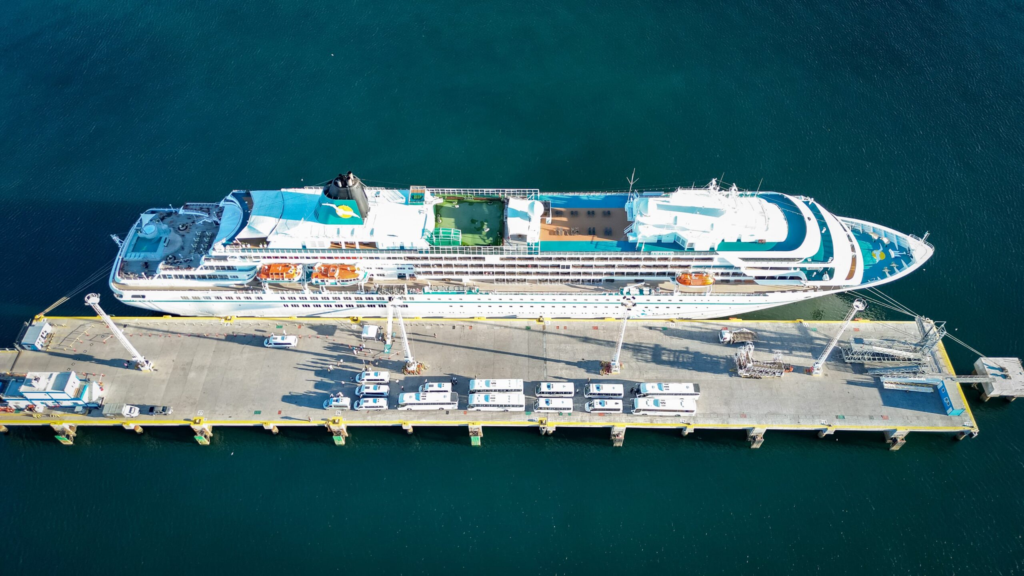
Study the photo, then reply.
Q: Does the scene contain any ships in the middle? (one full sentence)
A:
Yes, in the middle there is a ship.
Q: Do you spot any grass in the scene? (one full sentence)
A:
No, grass can't be seen anywhere here.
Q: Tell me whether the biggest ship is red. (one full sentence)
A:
No, the biggest ship is white.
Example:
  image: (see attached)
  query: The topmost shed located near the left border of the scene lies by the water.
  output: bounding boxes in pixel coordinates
[17,320,51,350]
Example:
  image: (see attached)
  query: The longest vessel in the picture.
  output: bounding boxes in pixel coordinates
[109,168,936,320]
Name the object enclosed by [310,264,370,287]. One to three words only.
boat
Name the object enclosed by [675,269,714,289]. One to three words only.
boat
